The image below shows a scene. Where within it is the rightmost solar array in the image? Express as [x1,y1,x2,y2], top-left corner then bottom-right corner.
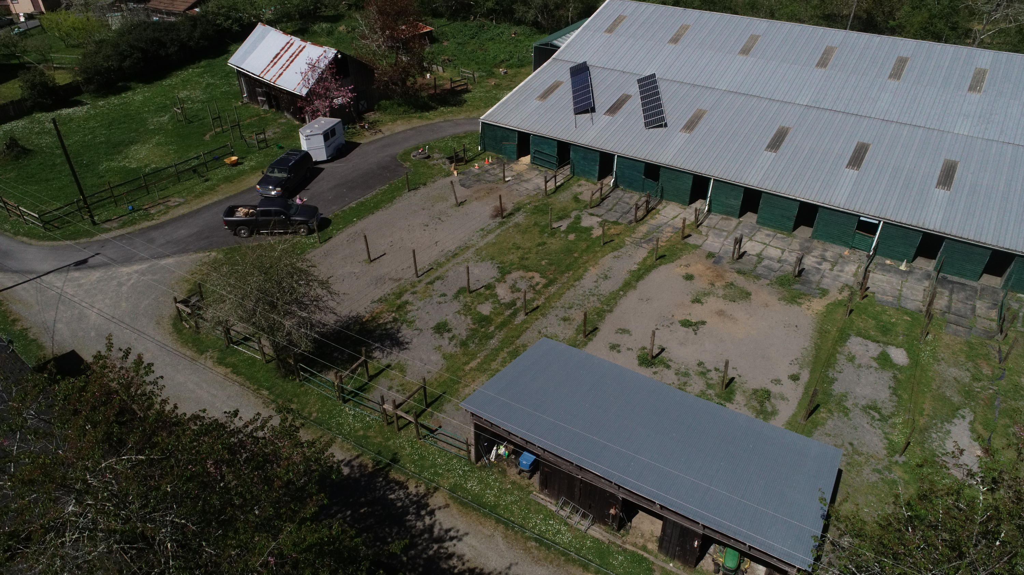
[637,76,666,133]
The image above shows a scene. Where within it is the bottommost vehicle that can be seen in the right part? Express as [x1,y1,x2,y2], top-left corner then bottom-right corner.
[708,544,753,575]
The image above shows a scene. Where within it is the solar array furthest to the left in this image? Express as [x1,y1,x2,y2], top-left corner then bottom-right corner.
[569,61,593,126]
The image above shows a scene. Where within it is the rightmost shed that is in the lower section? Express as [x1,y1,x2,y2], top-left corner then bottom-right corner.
[459,338,842,575]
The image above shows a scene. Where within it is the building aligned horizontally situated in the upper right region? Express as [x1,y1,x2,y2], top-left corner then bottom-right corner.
[476,0,1024,293]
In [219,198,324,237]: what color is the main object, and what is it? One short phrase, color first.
black truck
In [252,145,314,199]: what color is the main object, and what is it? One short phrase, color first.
black car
